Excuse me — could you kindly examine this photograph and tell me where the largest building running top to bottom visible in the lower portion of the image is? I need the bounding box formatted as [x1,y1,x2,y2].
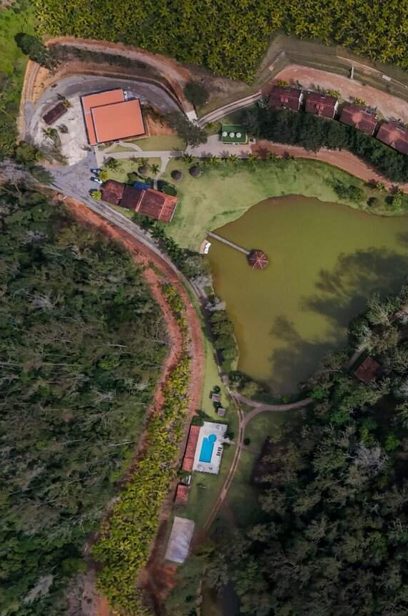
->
[181,426,202,471]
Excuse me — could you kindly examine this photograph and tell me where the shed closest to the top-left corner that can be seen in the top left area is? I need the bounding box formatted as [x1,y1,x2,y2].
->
[42,103,69,125]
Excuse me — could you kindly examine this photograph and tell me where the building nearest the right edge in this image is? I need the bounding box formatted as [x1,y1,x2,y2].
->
[376,123,408,153]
